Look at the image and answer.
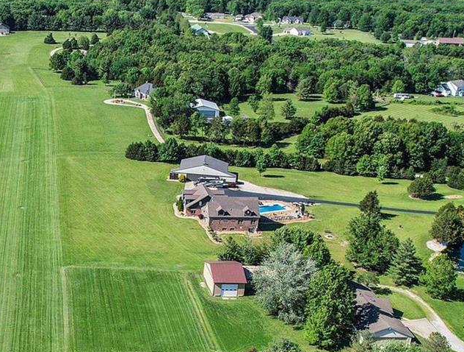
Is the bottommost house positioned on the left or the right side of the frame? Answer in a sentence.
The bottommost house is on the right side of the image.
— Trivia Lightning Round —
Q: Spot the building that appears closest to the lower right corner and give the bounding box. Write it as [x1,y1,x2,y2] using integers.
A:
[356,286,416,346]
